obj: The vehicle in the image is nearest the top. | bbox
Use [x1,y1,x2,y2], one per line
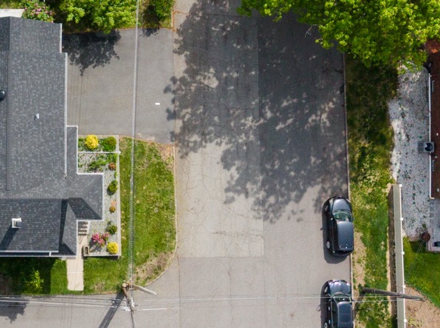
[324,197,358,258]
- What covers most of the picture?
paved ground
